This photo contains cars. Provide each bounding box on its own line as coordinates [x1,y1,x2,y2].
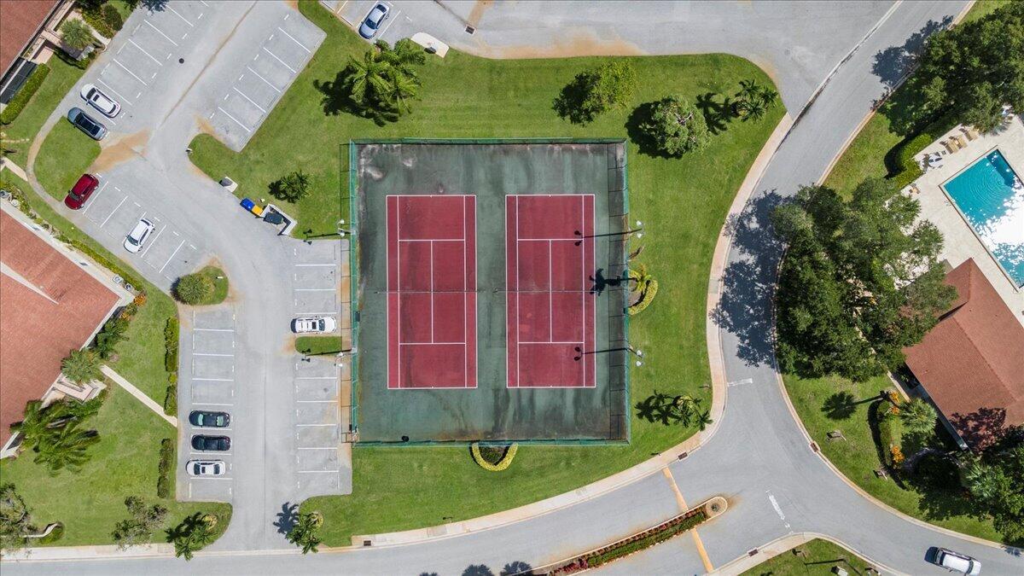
[358,0,391,41]
[81,83,122,119]
[69,108,108,142]
[934,546,978,574]
[294,316,336,334]
[125,218,156,255]
[190,410,231,428]
[66,173,101,211]
[192,433,232,452]
[187,458,227,477]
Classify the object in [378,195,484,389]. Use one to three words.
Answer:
tennis court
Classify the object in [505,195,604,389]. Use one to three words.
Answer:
tennis court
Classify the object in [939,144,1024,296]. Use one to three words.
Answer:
swimming pool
